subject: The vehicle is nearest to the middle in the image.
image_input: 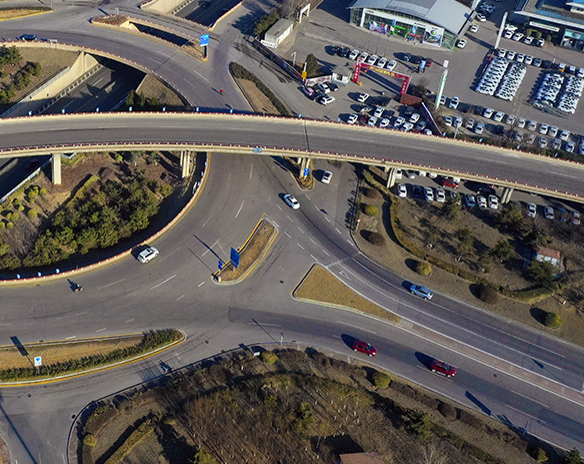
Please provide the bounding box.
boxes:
[282,194,301,210]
